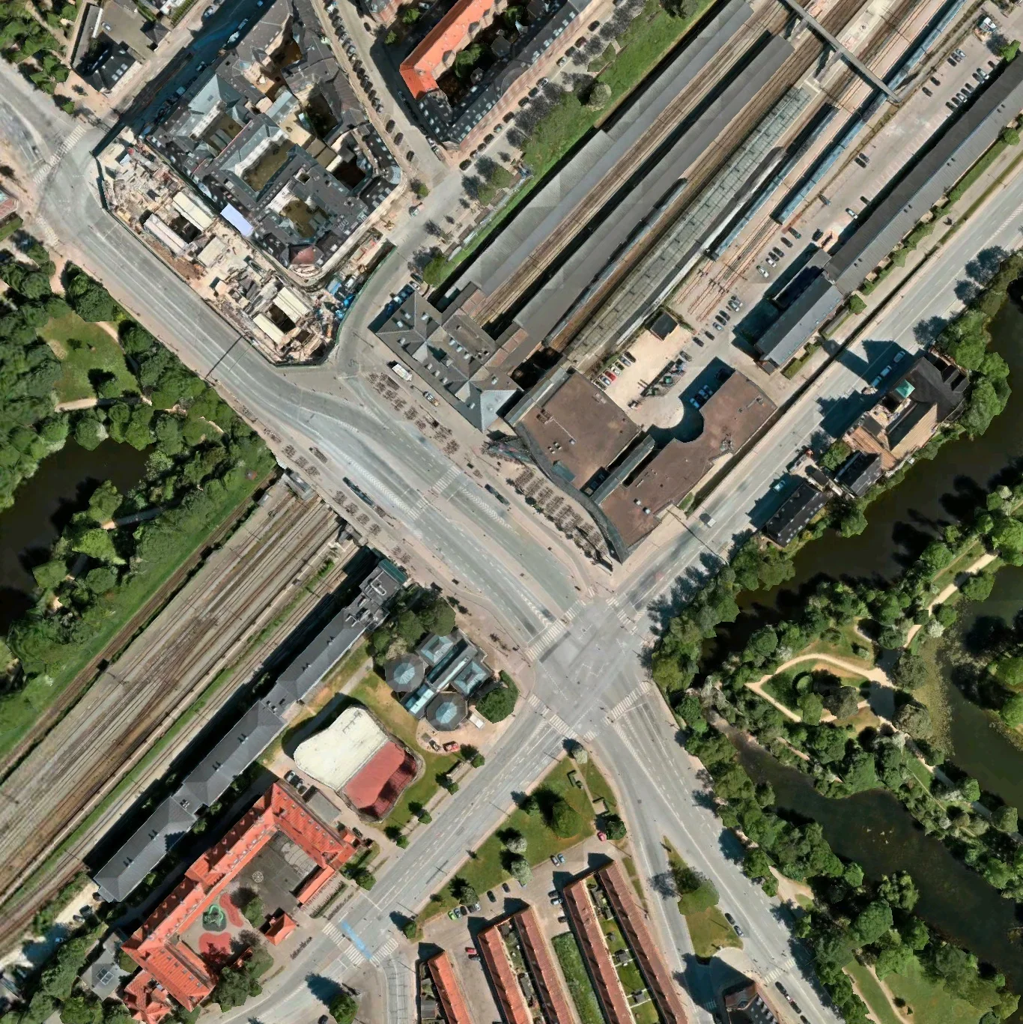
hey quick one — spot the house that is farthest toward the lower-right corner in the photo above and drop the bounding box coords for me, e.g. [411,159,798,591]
[717,970,776,1024]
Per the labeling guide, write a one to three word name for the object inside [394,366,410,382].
vehicle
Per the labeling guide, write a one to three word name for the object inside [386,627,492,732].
building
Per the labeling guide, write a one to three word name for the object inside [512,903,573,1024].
house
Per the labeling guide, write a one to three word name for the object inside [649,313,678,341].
shed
